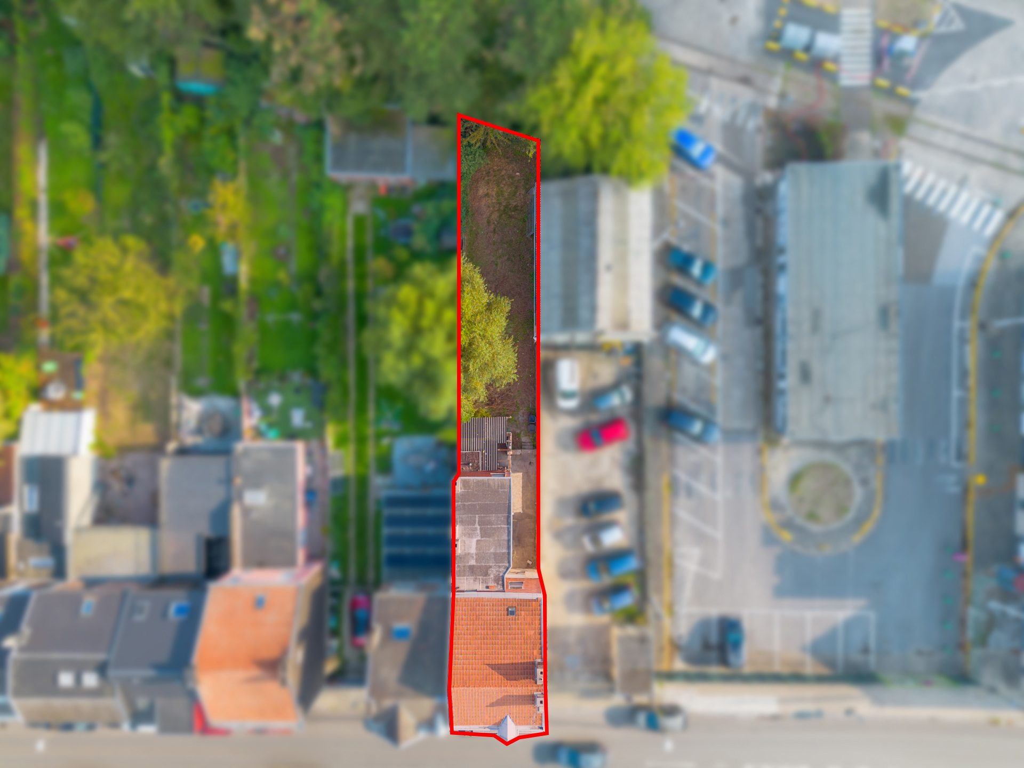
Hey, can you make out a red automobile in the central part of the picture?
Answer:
Yes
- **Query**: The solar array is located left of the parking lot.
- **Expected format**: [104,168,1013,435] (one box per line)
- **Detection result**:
[386,492,453,569]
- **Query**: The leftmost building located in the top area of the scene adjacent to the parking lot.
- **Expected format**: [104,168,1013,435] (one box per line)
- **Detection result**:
[534,175,653,342]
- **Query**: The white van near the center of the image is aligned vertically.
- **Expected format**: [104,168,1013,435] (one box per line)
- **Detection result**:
[554,354,582,412]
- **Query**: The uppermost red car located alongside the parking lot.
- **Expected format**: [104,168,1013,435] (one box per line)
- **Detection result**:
[573,415,635,450]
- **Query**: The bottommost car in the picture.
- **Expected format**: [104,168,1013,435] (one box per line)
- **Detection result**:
[547,738,611,768]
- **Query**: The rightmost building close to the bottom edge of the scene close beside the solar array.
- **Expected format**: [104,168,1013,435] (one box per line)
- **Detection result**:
[449,572,548,742]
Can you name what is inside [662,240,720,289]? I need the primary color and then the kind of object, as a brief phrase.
blue car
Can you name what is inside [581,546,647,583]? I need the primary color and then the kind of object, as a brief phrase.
blue car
